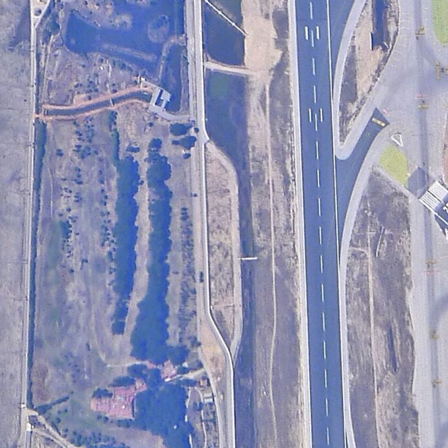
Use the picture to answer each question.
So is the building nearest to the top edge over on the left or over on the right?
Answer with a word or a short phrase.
left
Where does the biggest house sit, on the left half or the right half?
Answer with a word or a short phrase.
left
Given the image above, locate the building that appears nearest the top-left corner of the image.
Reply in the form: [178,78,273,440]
[142,78,171,111]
